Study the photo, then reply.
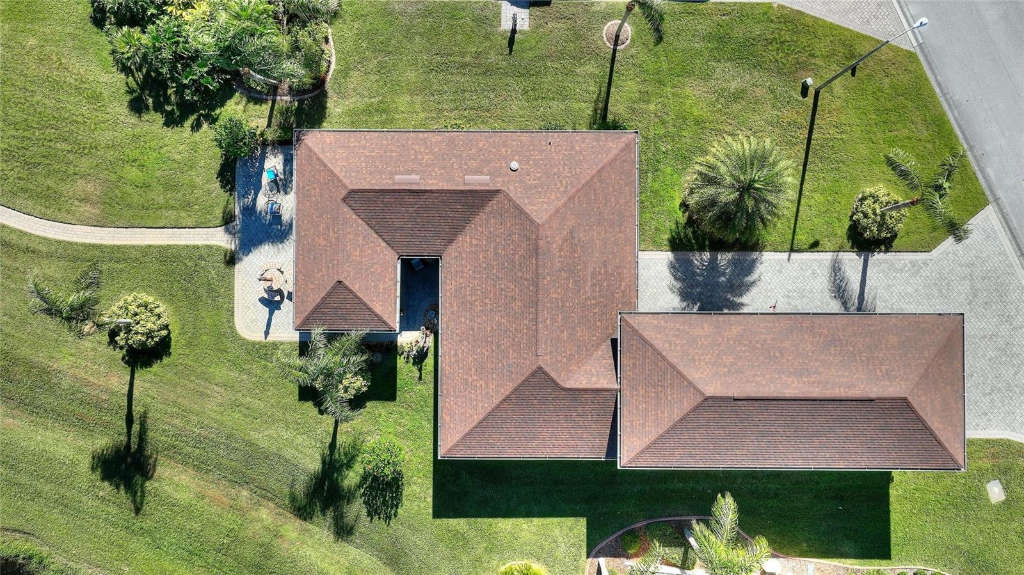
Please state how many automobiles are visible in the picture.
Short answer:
zero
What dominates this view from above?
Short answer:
grass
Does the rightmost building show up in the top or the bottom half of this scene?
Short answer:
bottom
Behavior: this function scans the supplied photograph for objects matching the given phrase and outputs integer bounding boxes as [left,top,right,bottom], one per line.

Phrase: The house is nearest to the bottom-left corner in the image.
[293,129,638,460]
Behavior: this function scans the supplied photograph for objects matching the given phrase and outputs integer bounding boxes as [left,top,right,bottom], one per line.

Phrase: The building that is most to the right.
[617,311,967,472]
